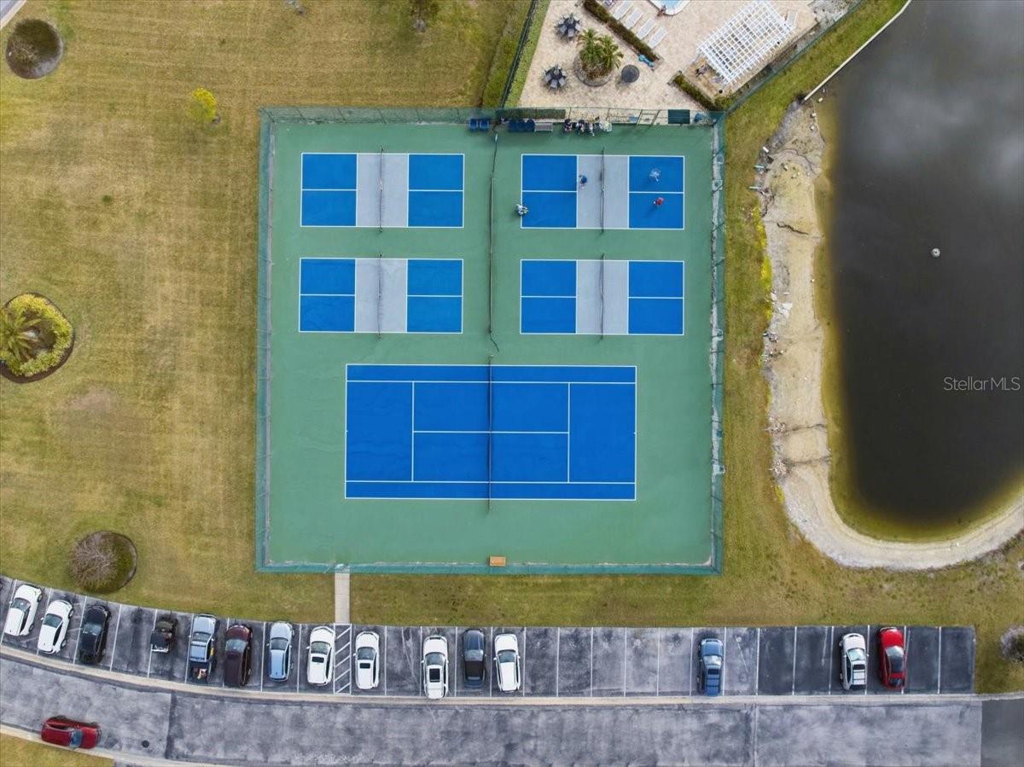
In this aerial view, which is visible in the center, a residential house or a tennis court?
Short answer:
tennis court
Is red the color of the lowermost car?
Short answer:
Yes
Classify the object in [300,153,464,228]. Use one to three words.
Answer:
sports court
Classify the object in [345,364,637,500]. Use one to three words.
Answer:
tennis court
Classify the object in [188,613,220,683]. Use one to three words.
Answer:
truck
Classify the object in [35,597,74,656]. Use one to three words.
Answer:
car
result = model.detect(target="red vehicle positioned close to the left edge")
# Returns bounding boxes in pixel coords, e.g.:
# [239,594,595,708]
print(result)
[39,716,103,751]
